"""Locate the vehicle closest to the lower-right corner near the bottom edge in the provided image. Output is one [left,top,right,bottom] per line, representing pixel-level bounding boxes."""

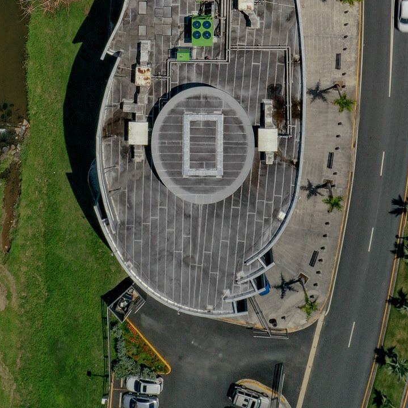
[228,382,270,408]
